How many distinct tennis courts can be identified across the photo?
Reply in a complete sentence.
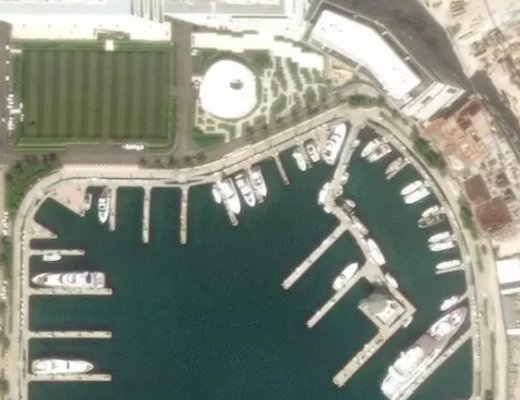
There are no tennis courts in this view.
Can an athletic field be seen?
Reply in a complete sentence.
Yes, the picture does show an athletic field.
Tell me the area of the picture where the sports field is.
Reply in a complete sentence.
Look in the top left portion of the view to spot the sports field.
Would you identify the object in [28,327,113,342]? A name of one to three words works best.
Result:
pier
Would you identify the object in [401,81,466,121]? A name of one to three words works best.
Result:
building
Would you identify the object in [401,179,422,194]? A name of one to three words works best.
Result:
boat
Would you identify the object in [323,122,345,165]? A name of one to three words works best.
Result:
boat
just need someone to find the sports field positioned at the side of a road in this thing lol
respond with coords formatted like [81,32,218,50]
[9,40,176,150]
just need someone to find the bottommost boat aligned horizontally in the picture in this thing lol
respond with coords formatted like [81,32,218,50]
[30,359,94,374]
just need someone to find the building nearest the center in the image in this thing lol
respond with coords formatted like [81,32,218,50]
[199,60,258,117]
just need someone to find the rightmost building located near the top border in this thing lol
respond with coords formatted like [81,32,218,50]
[303,2,434,101]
